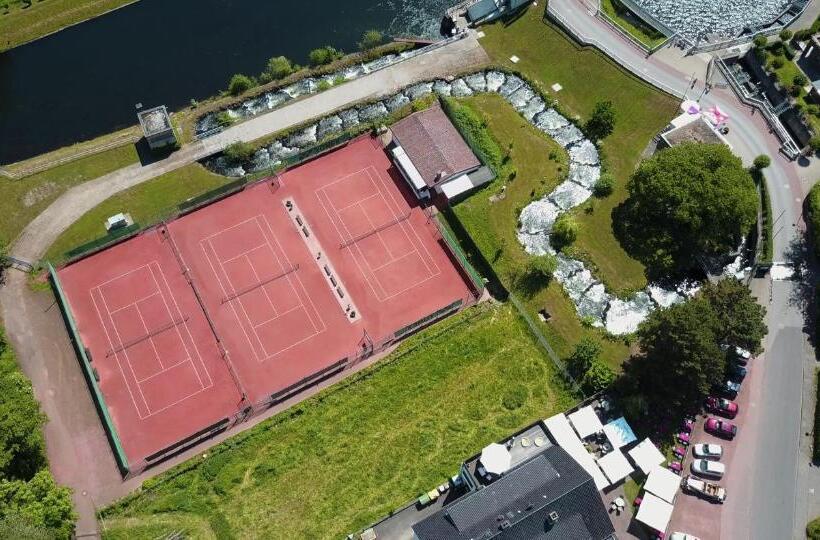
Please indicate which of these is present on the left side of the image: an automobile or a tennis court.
tennis court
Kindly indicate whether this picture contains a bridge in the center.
No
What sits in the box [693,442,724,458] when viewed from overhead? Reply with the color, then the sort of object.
white car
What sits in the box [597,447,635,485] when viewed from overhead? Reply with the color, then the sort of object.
white umbrella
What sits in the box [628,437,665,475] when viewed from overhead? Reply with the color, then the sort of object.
white umbrella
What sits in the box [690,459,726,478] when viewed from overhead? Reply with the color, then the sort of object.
white car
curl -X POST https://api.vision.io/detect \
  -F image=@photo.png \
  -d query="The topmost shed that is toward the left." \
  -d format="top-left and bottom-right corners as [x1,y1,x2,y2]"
[143,105,182,149]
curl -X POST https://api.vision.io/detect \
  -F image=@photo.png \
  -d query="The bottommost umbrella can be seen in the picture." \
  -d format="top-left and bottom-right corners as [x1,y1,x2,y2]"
[636,492,673,534]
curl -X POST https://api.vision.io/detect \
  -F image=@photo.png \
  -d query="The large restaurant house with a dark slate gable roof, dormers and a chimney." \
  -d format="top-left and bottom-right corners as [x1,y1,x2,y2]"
[412,447,612,540]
